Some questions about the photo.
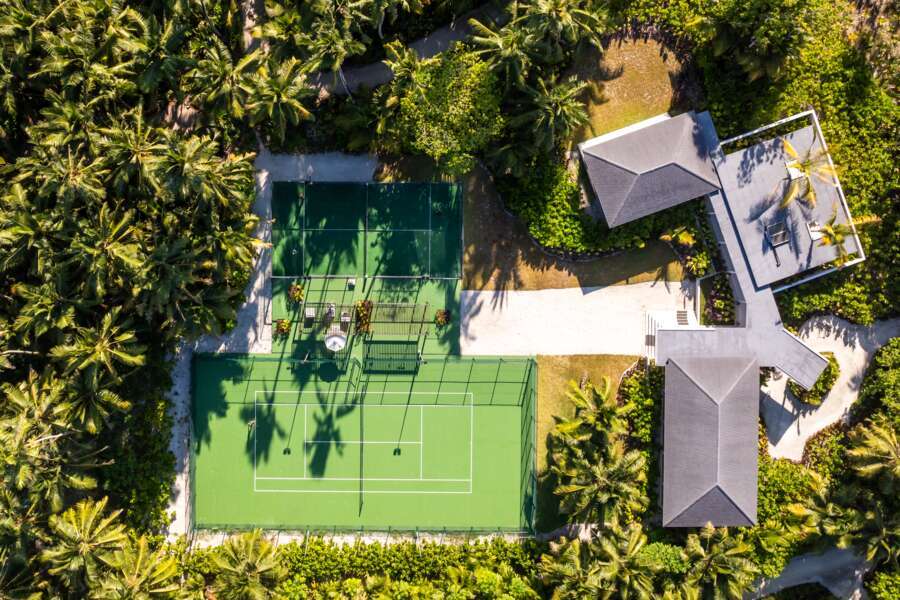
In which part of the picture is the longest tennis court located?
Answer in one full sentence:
The longest tennis court sits in the bottom section of the image.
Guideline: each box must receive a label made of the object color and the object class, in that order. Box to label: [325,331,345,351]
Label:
white umbrella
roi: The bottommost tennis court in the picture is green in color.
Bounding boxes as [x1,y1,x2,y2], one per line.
[192,353,538,531]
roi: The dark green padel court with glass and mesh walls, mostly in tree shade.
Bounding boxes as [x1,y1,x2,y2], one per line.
[266,178,461,278]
